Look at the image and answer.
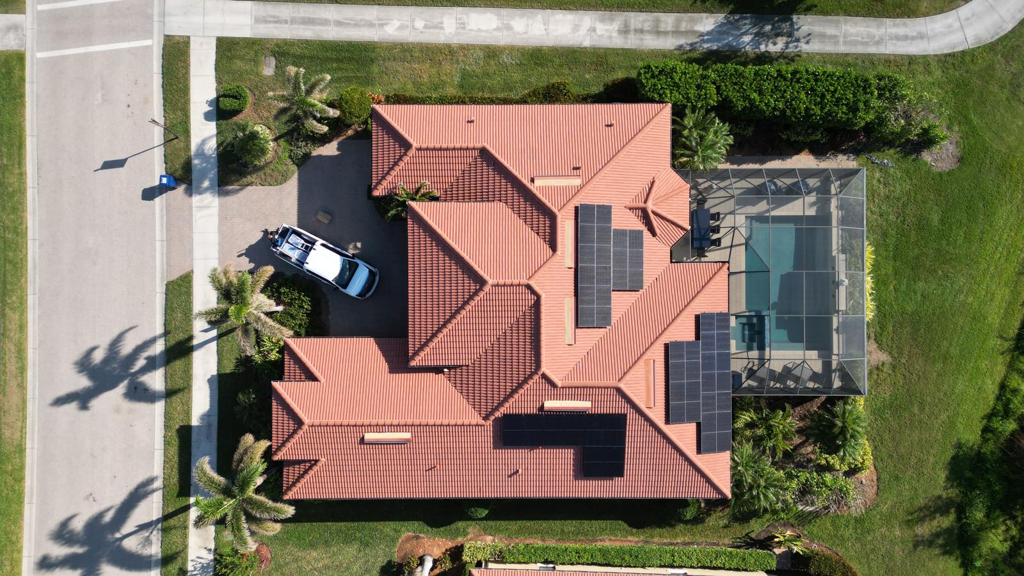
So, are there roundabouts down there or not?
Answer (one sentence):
No, I find no roundabout anywhere in the image.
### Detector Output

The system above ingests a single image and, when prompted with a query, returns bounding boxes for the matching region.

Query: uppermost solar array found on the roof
[580,199,647,331]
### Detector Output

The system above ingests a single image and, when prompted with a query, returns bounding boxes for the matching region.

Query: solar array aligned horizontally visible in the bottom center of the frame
[498,416,631,480]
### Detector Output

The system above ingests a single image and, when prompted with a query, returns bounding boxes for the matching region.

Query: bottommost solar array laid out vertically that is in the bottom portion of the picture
[671,309,734,458]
